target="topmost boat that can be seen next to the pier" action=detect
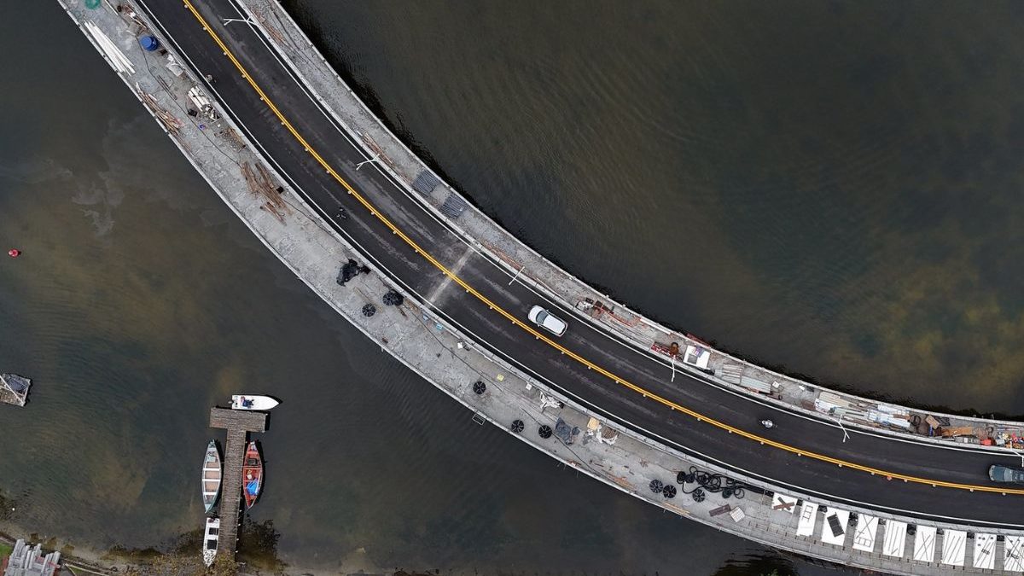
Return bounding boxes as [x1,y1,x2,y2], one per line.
[227,394,281,410]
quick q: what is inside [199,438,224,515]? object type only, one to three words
boat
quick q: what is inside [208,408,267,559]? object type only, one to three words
pier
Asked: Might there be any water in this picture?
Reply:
Yes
